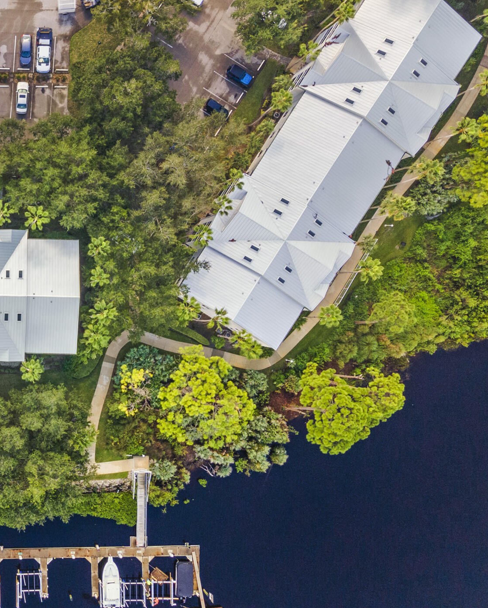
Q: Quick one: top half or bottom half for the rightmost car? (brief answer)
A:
top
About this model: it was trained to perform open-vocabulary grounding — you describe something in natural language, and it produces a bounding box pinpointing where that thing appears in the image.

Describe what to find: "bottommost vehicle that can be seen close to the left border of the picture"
[15,82,30,115]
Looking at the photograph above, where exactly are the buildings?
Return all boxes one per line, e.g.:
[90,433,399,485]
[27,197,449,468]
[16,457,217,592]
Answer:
[179,0,475,348]
[0,228,82,361]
